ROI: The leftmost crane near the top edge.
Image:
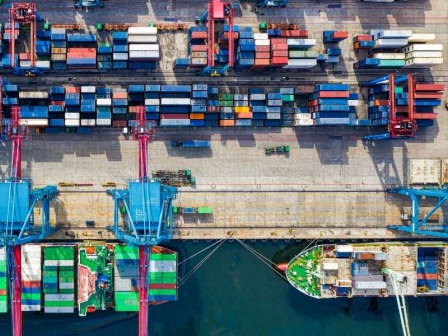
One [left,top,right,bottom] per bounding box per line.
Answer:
[10,3,45,80]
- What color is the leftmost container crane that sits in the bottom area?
blue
